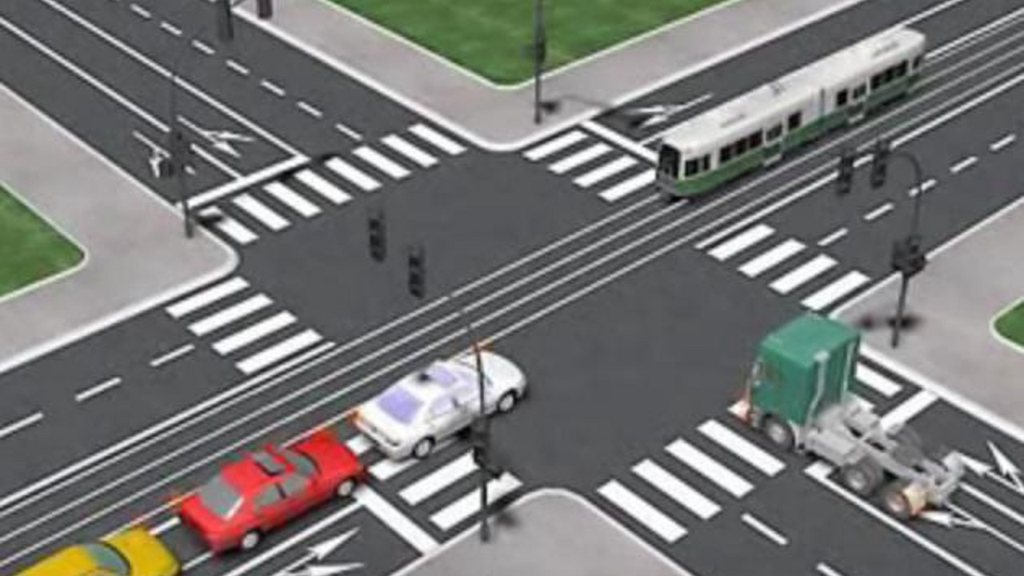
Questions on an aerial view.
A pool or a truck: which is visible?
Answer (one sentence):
I can see a truck in this picture.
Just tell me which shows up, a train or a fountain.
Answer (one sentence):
It is a train that can be seen here.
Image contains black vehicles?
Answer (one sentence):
No, there is no black vehicle in the image.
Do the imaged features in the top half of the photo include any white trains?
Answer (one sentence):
Yes, a white train shows up in the top half of the photo.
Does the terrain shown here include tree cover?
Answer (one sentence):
No, tree cover can't be seen anywhere here.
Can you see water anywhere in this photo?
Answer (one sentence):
No, no water is visible.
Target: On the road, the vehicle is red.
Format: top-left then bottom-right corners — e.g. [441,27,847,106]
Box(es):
[178,433,366,554]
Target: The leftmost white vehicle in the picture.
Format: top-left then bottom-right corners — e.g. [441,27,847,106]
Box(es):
[354,355,526,461]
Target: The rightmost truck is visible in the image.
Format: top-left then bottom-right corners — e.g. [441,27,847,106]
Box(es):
[748,317,976,523]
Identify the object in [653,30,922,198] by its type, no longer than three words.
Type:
train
